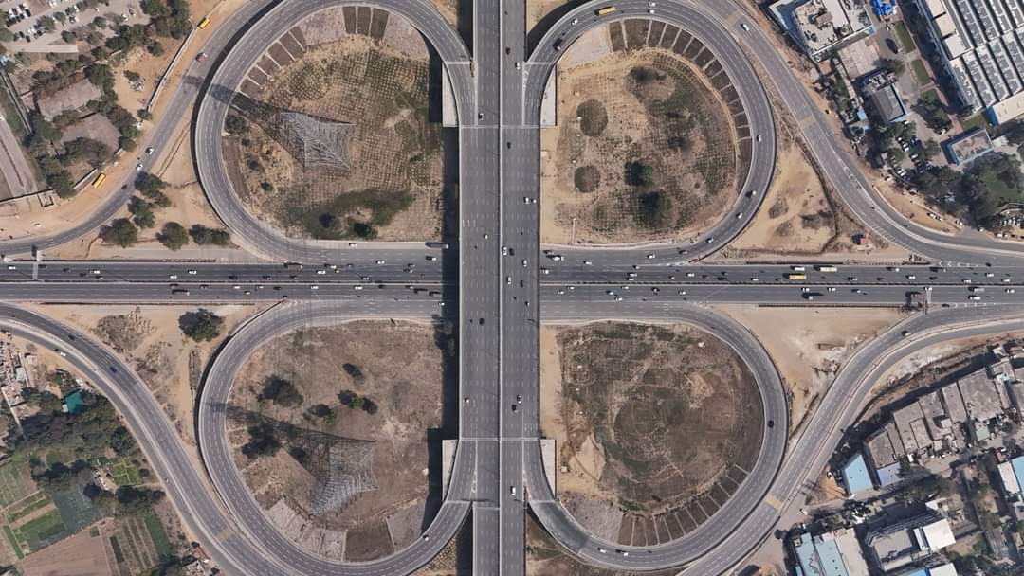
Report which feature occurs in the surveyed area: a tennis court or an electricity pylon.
electricity pylon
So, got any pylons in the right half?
No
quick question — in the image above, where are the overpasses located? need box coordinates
[443,0,556,576]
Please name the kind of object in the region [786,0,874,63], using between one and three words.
building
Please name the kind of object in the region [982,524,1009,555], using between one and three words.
house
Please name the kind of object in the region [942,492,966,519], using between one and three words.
house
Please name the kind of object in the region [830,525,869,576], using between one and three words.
shed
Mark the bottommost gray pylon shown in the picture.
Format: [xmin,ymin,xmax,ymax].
[303,441,378,510]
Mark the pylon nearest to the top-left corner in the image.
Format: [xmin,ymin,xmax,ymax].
[274,110,356,169]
